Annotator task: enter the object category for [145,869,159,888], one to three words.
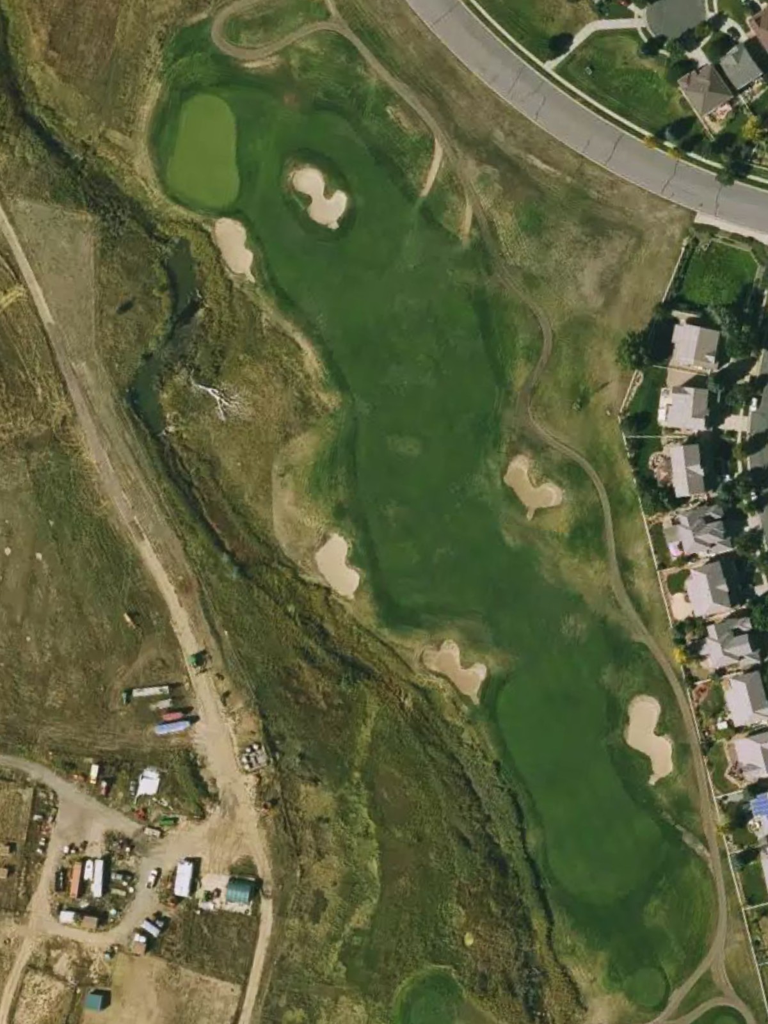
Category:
vehicle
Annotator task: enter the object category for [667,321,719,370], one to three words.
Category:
house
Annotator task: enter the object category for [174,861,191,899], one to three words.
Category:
house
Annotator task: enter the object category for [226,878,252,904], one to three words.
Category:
barn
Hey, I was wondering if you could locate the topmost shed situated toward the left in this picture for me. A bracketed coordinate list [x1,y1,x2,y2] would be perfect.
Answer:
[135,767,159,803]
